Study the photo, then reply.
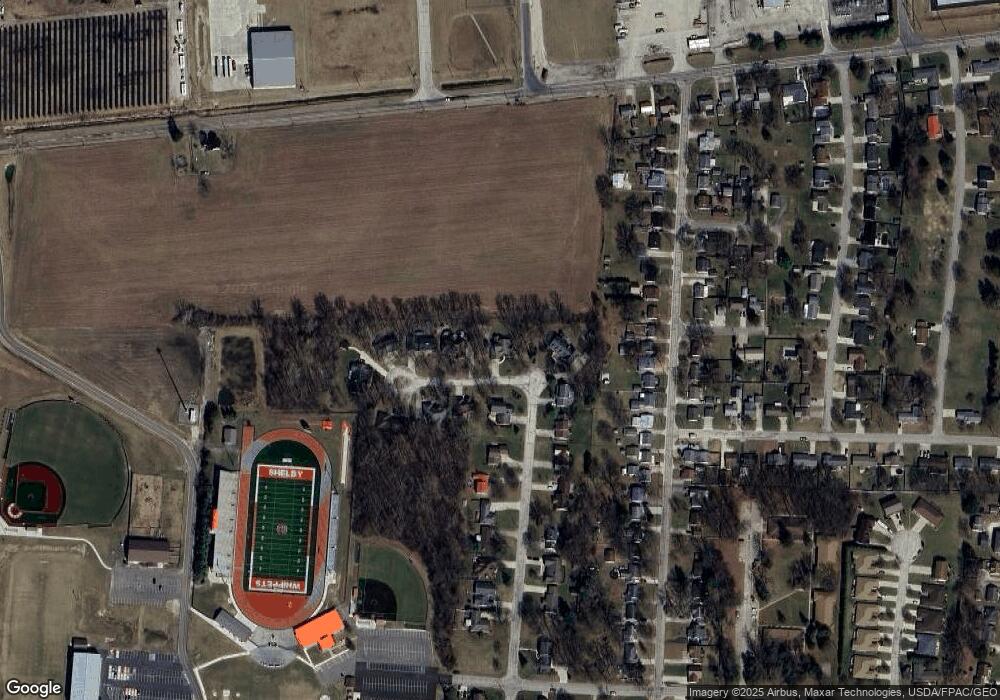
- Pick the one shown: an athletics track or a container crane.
athletics track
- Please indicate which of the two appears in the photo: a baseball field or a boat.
baseball field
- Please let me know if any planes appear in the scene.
No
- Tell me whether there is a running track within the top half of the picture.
No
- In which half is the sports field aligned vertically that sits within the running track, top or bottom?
bottom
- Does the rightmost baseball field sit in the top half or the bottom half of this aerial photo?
bottom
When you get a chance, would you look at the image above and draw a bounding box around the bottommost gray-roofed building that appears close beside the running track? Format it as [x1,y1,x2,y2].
[213,607,255,642]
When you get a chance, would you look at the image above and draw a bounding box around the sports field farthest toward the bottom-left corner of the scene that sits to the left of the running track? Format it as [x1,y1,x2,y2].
[11,545,96,700]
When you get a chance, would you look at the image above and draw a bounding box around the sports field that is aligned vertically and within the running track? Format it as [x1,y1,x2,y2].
[248,463,315,596]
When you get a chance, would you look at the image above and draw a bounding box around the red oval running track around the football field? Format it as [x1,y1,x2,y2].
[231,426,332,630]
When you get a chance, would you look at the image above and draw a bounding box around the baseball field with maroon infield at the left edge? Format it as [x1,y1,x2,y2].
[1,400,128,527]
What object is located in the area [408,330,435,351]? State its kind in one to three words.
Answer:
house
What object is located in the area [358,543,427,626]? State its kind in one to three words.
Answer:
baseball field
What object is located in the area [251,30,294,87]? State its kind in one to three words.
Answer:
building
